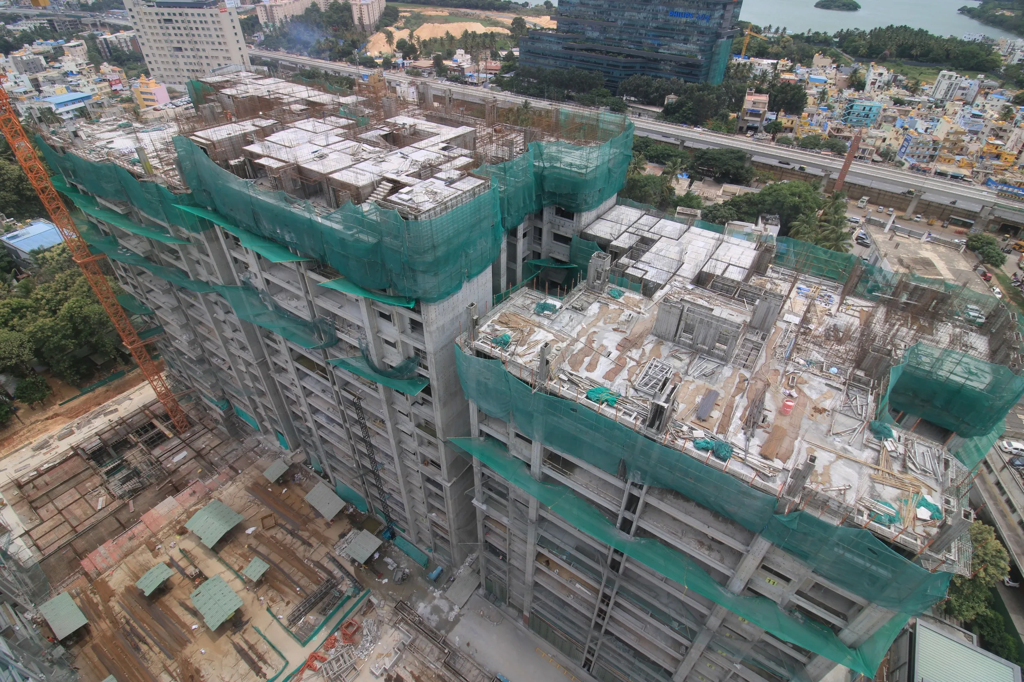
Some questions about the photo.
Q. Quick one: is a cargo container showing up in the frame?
Yes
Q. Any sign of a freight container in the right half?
No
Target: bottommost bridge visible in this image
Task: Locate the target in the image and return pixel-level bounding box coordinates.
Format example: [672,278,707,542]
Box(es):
[256,45,1024,237]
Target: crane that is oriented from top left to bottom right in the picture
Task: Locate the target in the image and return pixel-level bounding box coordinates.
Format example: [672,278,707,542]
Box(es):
[0,84,215,438]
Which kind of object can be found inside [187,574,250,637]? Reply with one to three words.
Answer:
shed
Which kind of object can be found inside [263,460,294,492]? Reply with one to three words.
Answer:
shed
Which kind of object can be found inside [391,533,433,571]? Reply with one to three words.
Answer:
shipping container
